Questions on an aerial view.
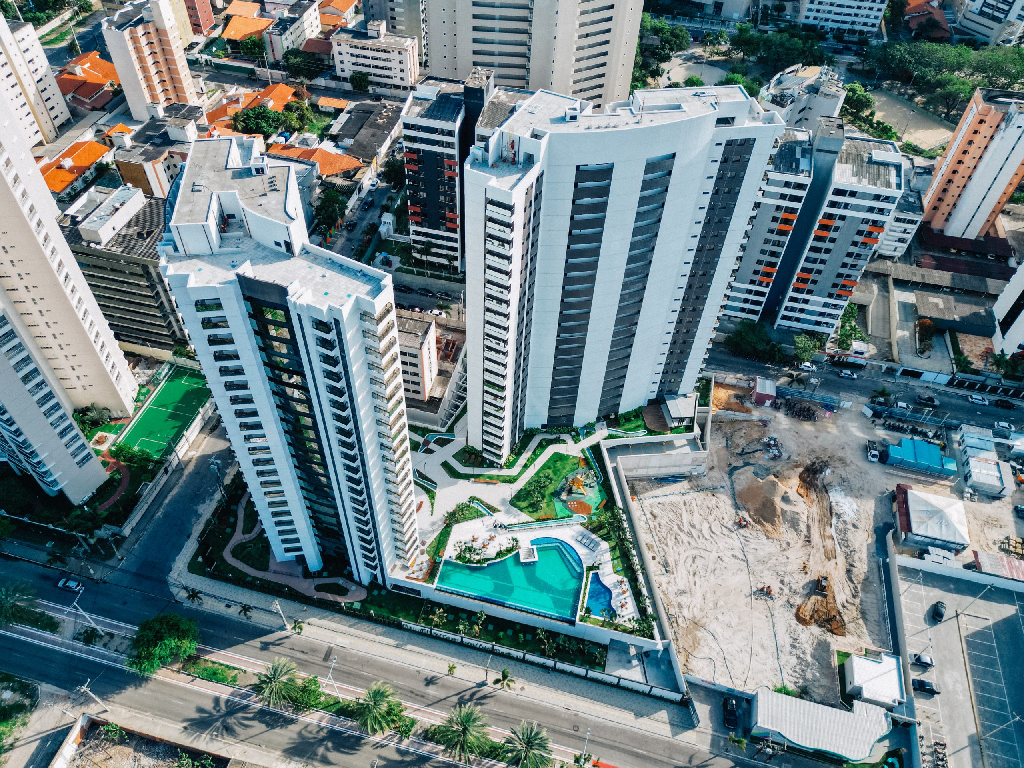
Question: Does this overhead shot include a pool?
Yes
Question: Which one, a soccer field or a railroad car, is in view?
soccer field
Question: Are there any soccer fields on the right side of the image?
No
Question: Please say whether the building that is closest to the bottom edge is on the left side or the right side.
right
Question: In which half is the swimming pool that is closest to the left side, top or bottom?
bottom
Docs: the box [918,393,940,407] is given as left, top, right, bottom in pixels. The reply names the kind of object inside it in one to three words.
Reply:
car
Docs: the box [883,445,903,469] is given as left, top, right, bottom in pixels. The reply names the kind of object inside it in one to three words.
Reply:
building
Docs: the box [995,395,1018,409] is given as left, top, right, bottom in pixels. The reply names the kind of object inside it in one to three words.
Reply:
car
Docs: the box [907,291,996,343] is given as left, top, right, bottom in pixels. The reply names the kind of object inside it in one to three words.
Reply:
shed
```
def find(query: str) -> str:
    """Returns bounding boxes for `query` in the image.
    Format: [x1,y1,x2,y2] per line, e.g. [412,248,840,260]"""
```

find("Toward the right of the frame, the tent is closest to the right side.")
[906,491,969,551]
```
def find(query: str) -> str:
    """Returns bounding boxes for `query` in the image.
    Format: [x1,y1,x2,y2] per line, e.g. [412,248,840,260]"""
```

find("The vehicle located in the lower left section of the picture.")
[54,576,83,593]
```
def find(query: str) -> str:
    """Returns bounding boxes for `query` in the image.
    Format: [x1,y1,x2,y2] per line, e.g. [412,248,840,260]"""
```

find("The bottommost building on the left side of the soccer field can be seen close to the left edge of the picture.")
[0,292,108,506]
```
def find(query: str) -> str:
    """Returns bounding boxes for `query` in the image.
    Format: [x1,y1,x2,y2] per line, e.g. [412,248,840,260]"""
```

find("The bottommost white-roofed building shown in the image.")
[749,689,891,768]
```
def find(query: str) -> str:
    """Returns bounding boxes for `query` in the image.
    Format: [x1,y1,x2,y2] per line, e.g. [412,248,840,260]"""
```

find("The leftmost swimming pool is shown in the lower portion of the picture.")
[436,537,585,620]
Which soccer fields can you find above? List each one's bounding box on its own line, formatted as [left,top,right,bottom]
[119,365,211,462]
